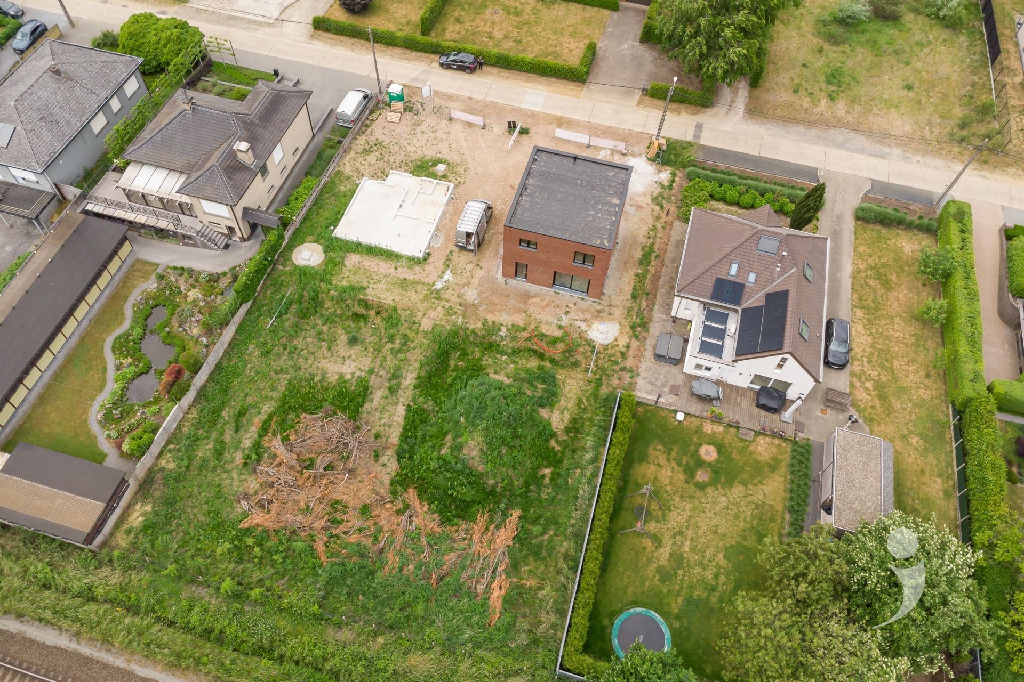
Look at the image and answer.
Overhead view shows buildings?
Yes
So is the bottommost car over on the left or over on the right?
right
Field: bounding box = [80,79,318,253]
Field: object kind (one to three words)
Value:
house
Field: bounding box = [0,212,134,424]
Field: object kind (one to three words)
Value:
shed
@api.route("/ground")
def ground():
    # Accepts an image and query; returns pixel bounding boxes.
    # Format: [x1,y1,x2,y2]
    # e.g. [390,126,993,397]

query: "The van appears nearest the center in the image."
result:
[453,202,489,254]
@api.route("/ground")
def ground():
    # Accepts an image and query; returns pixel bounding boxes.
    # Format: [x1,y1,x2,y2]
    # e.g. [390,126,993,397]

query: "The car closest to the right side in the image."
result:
[825,314,856,368]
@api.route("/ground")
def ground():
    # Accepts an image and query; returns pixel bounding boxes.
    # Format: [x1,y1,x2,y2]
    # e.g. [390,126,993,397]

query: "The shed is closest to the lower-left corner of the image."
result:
[0,442,133,551]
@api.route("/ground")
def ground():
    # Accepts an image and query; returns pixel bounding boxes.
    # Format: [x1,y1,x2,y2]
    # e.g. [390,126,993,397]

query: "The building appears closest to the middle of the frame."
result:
[502,145,635,300]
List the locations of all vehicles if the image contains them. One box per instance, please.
[437,50,479,72]
[9,20,49,51]
[329,89,365,125]
[825,314,856,368]
[453,202,489,254]
[0,0,24,14]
